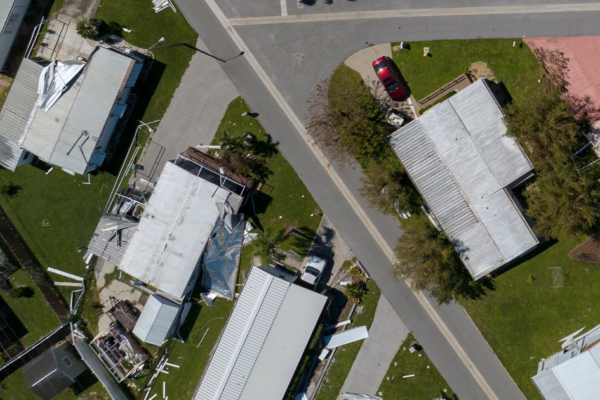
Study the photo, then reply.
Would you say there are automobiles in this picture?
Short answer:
Yes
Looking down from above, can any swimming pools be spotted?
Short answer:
No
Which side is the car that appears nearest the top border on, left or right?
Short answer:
right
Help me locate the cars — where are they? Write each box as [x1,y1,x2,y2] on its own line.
[371,54,411,104]
[295,252,324,287]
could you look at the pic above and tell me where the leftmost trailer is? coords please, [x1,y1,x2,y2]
[107,299,140,333]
